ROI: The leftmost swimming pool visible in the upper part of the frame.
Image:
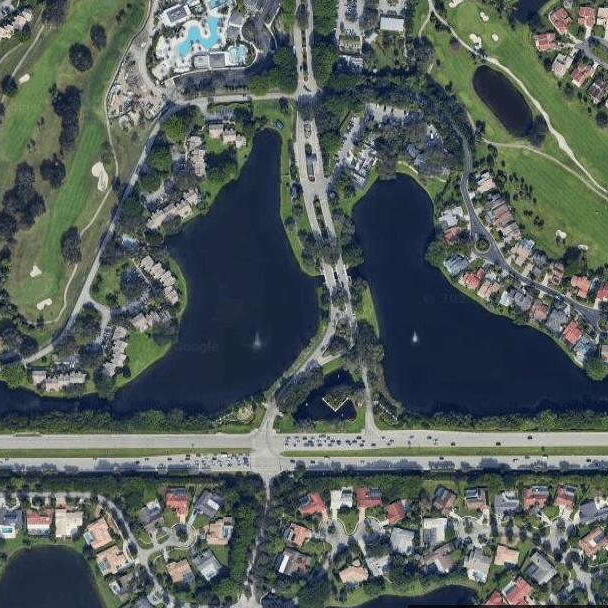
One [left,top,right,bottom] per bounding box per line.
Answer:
[118,230,141,250]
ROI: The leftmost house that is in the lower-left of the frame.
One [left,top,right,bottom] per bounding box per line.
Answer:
[0,505,22,528]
